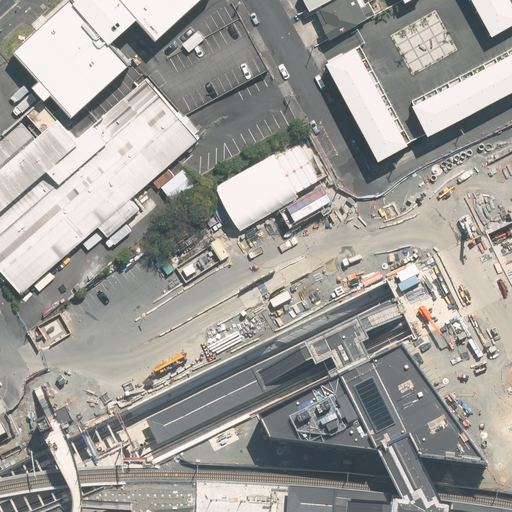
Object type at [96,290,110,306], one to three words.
vehicle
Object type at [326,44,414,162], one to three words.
building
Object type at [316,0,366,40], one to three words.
house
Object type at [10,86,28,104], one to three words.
vehicle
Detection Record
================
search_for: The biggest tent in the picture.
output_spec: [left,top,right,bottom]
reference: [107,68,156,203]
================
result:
[218,156,298,231]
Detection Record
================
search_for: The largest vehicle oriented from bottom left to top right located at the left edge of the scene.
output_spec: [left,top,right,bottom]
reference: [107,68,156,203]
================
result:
[11,92,39,116]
